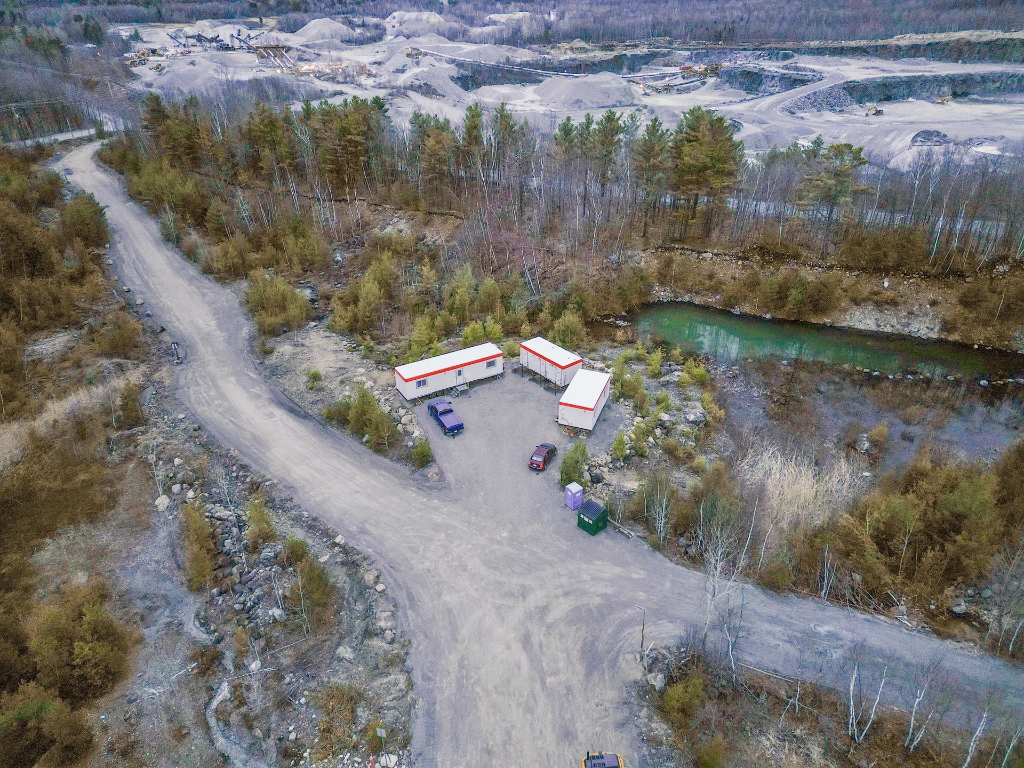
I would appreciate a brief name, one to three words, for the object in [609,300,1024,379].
pond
